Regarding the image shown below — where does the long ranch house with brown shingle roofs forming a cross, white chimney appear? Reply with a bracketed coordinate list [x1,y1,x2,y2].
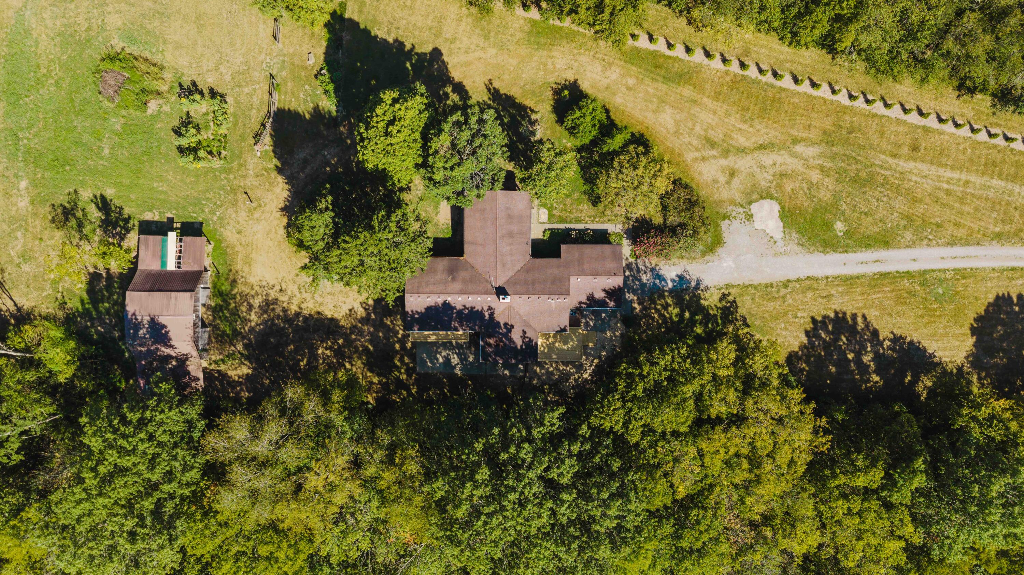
[404,190,623,363]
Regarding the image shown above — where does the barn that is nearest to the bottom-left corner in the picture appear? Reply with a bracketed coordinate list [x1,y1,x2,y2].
[124,230,211,396]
